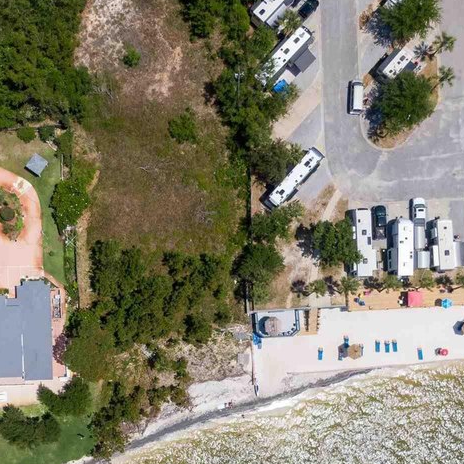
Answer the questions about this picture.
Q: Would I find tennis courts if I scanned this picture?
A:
No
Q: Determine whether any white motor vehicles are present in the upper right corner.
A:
Yes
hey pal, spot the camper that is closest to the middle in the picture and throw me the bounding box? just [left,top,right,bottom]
[262,149,325,213]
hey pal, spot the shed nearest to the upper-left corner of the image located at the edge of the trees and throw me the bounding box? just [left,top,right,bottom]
[23,151,46,176]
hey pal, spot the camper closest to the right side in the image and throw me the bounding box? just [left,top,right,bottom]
[426,216,463,274]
